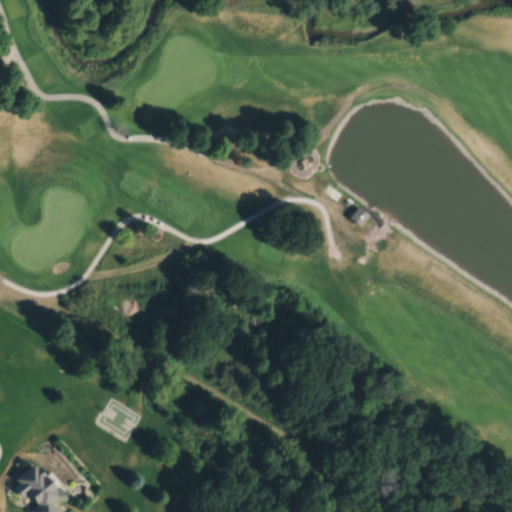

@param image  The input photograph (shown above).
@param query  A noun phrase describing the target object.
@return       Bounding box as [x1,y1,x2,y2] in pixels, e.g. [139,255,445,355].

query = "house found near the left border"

[20,466,70,512]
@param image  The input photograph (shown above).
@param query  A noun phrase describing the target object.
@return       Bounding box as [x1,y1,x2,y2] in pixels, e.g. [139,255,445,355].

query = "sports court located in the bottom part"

[96,400,140,440]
